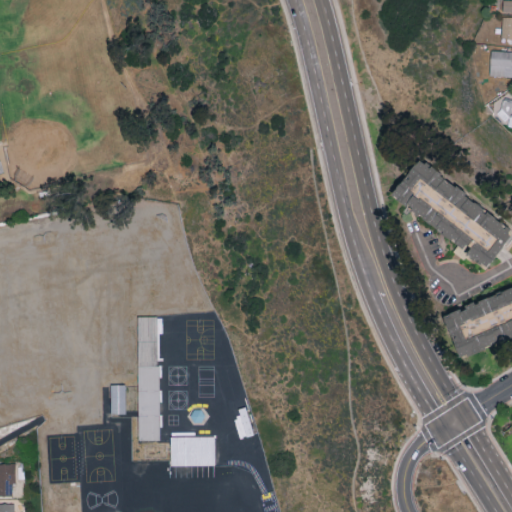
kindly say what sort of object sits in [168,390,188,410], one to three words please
sports court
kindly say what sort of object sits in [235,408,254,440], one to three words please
building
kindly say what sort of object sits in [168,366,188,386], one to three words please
sports court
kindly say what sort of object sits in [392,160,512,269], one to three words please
building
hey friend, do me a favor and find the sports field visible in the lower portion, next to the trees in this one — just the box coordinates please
[0,201,214,512]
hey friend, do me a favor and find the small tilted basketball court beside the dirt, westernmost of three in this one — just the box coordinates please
[48,434,80,484]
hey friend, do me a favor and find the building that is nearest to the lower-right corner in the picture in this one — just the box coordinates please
[443,284,512,359]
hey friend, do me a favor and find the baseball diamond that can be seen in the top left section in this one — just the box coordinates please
[0,0,152,193]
